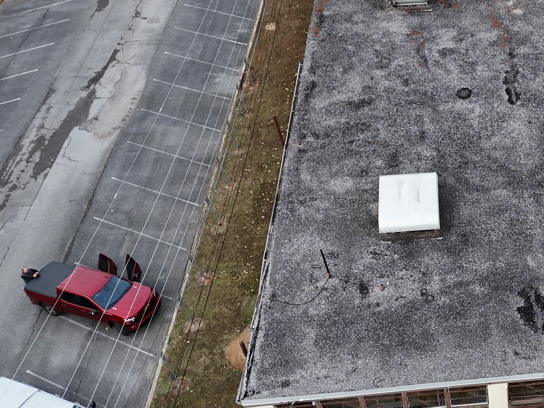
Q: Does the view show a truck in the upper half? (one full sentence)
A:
No, looking in the upper half, there is no truck.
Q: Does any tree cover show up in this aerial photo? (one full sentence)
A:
No, no tree cover is visible.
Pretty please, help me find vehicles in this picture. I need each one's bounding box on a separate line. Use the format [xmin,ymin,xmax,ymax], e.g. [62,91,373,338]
[24,252,167,336]
[0,377,81,408]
